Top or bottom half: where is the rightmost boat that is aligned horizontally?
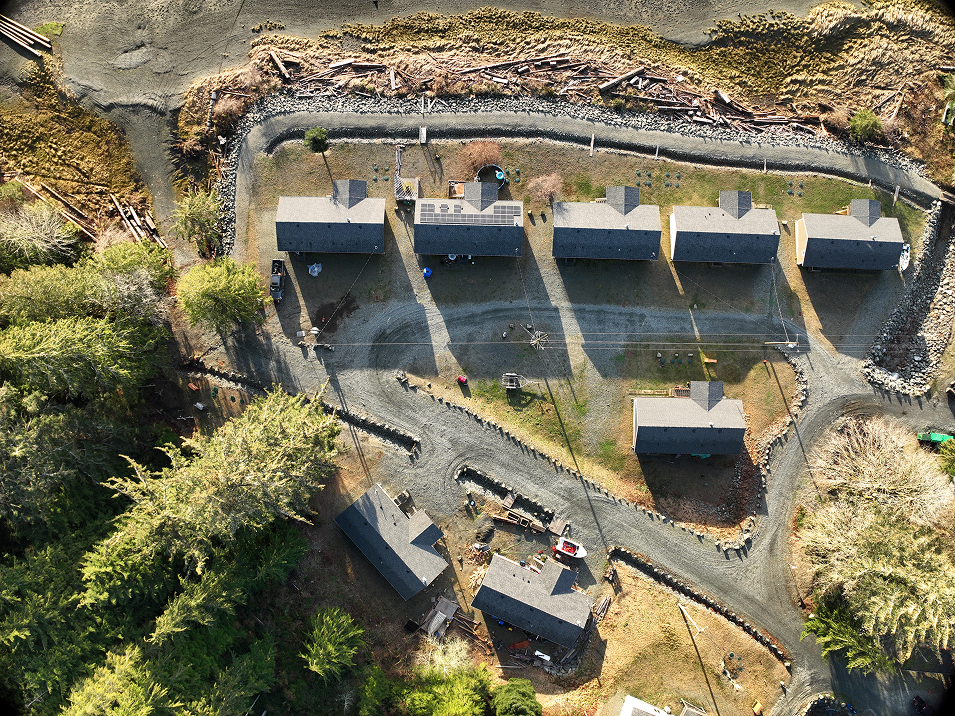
bottom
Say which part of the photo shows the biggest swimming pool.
top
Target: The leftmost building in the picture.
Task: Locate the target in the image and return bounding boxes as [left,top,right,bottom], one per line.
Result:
[275,179,386,263]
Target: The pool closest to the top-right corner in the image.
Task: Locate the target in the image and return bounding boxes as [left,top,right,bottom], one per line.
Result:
[473,157,504,184]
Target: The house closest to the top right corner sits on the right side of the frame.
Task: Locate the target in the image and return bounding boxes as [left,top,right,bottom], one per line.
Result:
[795,200,907,279]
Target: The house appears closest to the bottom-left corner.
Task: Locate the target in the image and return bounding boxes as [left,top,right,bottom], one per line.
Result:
[335,483,449,601]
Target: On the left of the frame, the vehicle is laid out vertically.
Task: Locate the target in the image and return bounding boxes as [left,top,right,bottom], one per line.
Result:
[269,257,287,302]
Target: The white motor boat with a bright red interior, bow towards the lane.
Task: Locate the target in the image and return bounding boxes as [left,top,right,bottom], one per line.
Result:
[551,537,588,557]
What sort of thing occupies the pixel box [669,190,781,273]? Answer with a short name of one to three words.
house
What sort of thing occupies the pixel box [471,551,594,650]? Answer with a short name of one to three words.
house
